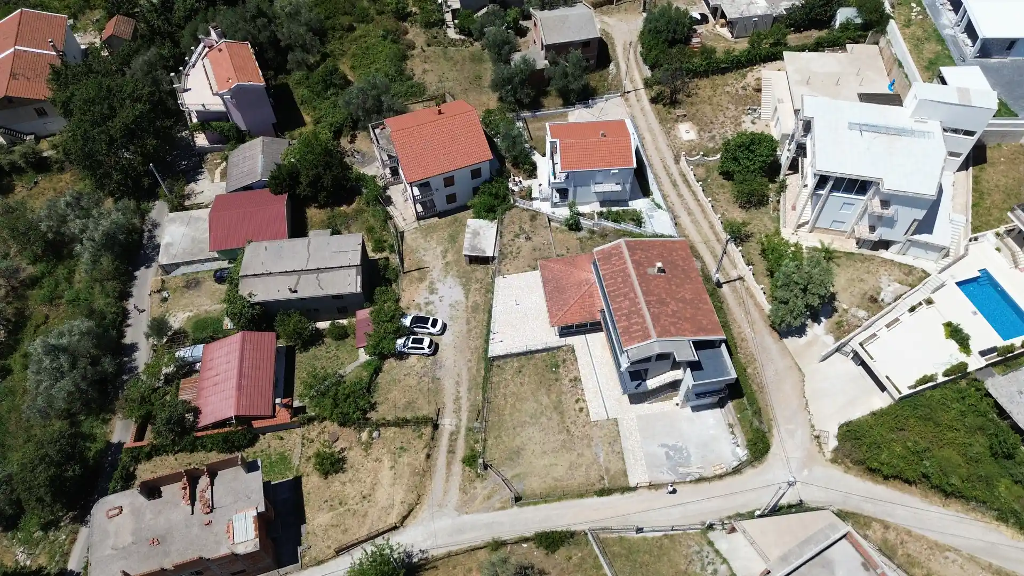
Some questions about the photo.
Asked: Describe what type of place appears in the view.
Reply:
residential area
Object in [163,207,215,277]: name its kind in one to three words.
building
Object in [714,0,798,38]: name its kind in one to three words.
house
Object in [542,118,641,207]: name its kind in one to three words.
house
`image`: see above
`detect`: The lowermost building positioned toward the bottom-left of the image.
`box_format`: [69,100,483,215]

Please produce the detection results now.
[88,453,283,576]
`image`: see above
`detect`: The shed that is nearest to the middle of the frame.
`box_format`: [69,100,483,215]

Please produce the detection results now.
[463,219,500,265]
